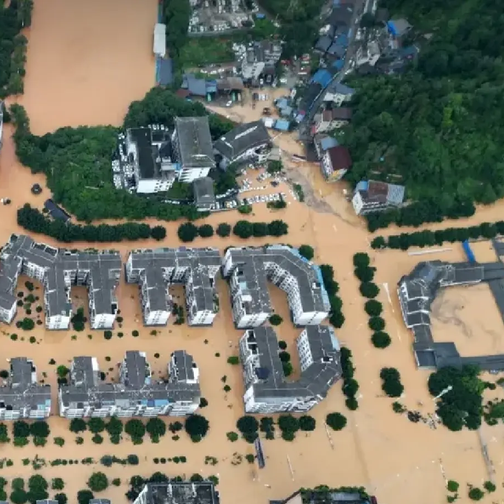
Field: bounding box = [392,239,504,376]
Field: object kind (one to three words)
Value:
building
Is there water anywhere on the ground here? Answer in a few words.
Yes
